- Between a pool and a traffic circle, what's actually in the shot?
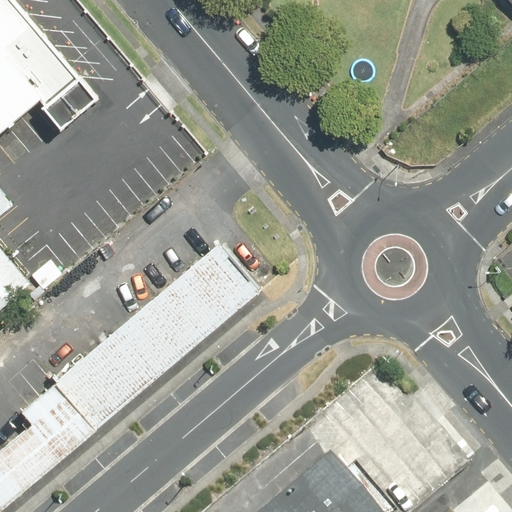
traffic circle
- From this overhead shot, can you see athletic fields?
No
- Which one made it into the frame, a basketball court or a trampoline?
trampoline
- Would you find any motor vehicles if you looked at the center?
Yes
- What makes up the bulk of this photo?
paved ground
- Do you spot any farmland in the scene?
No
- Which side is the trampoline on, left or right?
right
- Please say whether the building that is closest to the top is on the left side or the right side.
left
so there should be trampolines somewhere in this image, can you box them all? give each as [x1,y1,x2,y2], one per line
[350,58,376,82]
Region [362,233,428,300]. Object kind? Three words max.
roundabout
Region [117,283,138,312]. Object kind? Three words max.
car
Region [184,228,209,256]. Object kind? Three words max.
car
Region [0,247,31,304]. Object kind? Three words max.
building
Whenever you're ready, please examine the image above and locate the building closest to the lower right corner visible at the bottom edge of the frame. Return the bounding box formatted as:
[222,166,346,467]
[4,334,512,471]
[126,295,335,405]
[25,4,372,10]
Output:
[255,450,387,512]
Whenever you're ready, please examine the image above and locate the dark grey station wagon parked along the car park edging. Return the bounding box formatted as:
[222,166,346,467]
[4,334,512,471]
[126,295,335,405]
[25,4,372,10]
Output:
[142,196,172,224]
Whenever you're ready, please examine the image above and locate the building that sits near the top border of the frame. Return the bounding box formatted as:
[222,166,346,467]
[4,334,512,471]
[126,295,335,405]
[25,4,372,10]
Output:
[0,0,98,134]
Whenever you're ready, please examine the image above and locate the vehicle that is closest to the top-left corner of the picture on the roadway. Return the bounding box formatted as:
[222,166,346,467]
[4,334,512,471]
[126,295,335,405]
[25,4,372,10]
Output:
[164,7,192,38]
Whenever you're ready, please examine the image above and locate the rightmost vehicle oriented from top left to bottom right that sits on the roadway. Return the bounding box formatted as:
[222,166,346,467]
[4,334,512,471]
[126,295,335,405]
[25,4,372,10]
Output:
[462,384,492,416]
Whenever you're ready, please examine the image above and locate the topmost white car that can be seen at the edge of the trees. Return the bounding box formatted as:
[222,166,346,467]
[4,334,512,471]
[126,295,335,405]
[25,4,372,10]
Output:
[234,26,260,56]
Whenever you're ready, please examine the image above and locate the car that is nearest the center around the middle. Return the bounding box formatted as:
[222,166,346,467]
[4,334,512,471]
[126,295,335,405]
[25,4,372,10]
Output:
[234,242,260,271]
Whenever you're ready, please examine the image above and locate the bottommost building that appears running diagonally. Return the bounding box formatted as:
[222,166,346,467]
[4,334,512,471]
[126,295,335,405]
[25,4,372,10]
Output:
[0,384,96,510]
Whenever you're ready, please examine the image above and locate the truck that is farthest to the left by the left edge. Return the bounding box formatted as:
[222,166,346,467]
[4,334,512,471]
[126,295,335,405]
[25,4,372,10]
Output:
[0,411,21,441]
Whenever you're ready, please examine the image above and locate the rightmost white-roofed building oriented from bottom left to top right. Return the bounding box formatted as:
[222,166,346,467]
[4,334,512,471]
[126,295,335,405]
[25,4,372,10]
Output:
[56,245,262,430]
